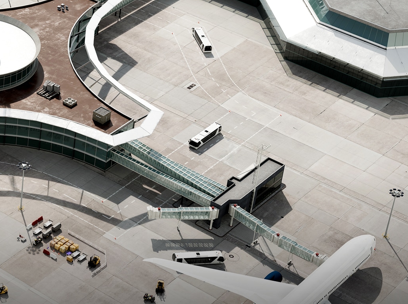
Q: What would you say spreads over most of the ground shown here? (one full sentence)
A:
The scene is dominated by paved ground.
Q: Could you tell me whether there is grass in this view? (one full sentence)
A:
No, there's no grass in this view.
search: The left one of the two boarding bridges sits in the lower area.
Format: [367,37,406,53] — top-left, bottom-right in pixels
[139,204,218,233]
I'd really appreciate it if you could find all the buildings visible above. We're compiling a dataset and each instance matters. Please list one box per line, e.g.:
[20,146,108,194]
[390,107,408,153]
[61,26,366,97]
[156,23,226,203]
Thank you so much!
[239,0,408,98]
[197,161,292,242]
[0,0,166,173]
